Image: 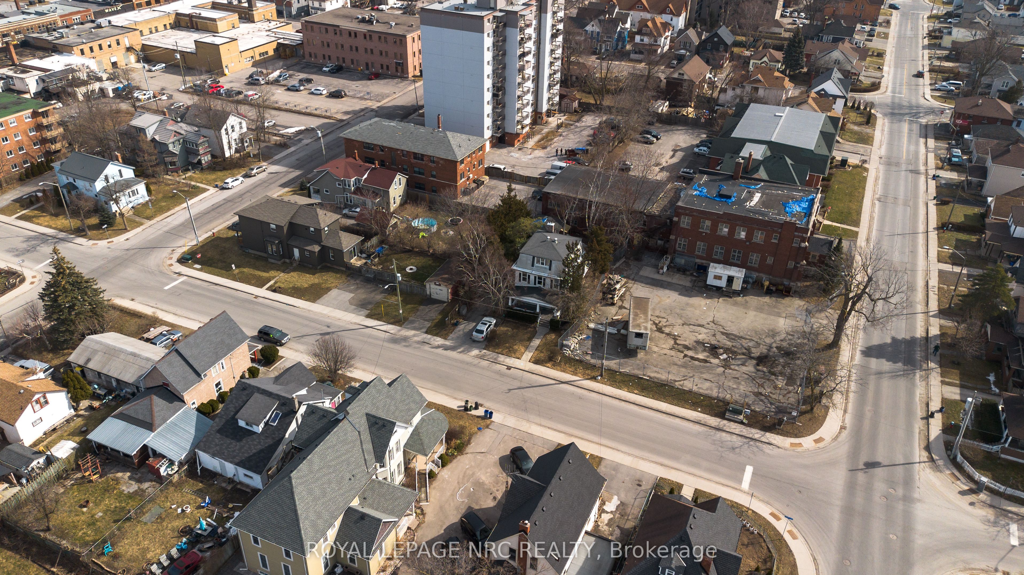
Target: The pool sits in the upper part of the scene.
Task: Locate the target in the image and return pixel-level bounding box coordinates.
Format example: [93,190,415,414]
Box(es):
[412,217,437,235]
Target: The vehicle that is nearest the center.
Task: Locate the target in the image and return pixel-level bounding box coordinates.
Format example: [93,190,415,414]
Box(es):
[470,319,497,342]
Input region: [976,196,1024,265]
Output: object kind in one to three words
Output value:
house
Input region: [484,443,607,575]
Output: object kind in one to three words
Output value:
house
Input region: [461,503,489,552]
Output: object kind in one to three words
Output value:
vehicle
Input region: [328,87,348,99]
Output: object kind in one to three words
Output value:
vehicle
